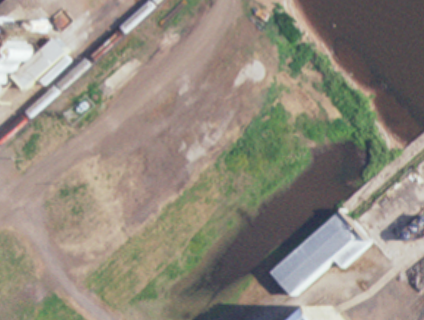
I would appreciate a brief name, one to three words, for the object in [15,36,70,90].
shed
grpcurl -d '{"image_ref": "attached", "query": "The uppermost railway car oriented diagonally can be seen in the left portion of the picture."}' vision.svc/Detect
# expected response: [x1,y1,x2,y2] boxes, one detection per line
[120,0,156,34]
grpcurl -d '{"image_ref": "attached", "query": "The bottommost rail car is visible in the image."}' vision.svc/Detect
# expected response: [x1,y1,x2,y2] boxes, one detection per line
[22,89,60,120]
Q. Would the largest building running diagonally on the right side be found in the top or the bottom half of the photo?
bottom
